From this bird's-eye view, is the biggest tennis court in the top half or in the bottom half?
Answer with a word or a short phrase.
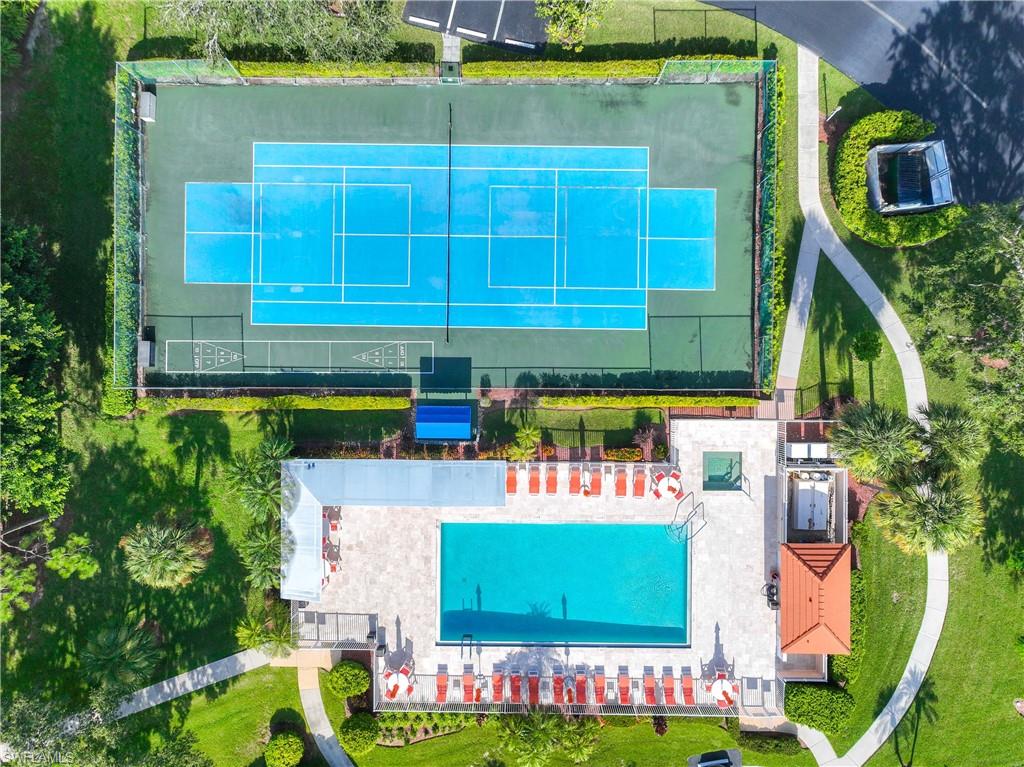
top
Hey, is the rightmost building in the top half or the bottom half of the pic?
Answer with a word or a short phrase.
bottom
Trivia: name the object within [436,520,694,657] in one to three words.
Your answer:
swimming pool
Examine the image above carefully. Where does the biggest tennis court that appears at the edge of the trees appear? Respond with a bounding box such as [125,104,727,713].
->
[143,62,757,441]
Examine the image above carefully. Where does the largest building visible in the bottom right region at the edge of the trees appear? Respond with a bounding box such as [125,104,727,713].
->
[771,540,853,684]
